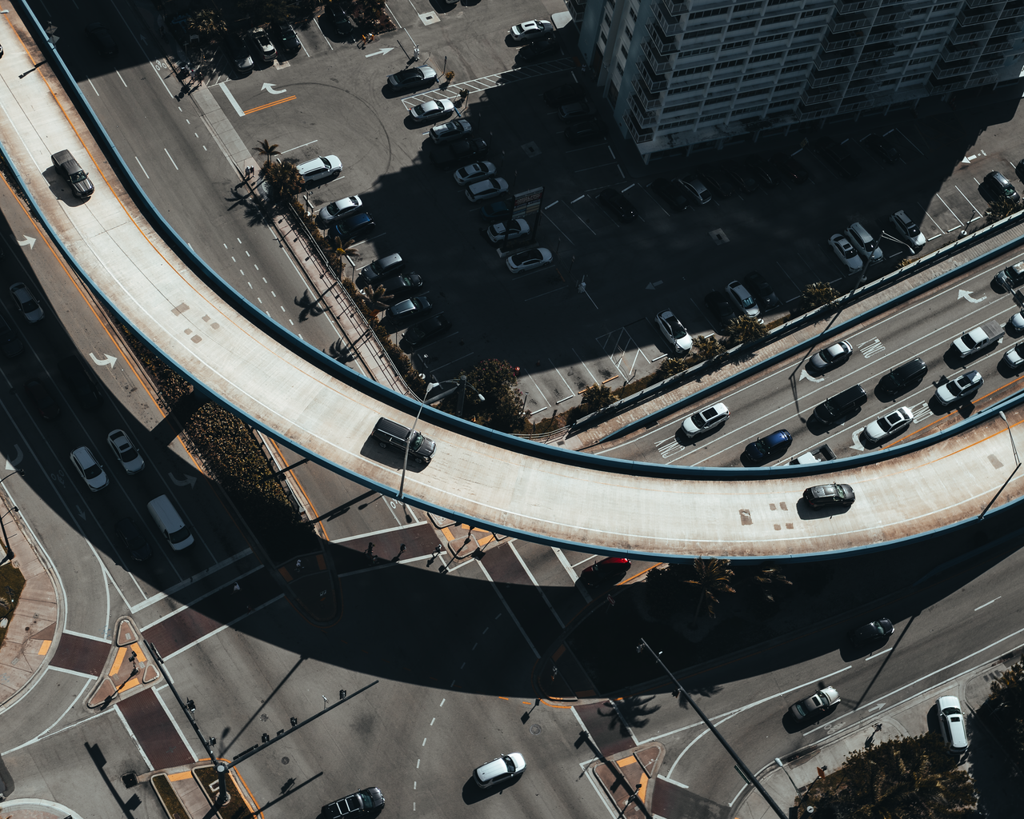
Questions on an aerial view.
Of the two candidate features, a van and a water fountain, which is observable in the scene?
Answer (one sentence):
The one in the frame is a van.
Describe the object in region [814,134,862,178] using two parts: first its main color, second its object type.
black truck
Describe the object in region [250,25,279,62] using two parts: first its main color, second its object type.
black car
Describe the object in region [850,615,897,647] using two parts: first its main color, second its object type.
black car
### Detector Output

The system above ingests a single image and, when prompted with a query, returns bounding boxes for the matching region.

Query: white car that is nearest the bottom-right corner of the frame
[937,698,971,752]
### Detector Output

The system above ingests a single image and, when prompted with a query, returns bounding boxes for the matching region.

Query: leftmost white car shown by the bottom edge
[471,751,527,789]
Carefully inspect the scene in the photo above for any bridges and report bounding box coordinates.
[0,0,1024,568]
